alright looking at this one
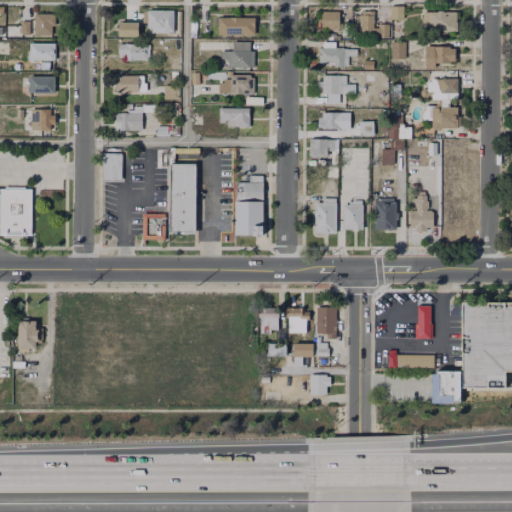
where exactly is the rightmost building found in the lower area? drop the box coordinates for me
[462,303,512,388]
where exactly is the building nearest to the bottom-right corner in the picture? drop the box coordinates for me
[432,372,462,404]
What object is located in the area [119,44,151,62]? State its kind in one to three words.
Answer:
house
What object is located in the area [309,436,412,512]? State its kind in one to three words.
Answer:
bridge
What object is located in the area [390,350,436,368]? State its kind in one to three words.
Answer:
building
